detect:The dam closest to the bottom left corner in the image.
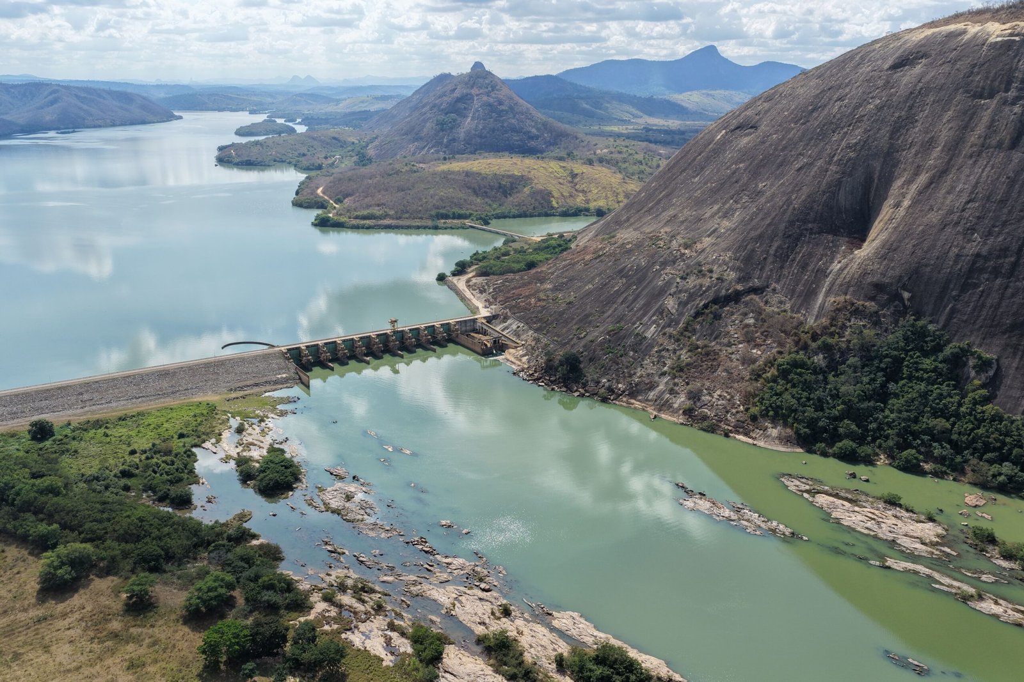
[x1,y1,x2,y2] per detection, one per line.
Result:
[0,345,301,430]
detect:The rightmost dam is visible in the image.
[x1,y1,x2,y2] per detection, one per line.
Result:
[280,312,489,385]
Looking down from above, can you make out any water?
Yes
